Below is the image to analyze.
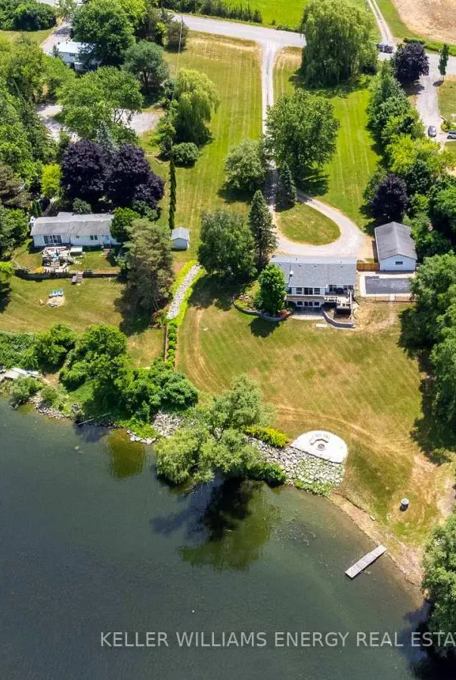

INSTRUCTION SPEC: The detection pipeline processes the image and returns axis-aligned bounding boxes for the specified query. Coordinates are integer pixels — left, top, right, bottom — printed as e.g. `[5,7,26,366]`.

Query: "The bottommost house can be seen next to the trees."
[267,255,357,322]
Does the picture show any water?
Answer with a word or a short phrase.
Yes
